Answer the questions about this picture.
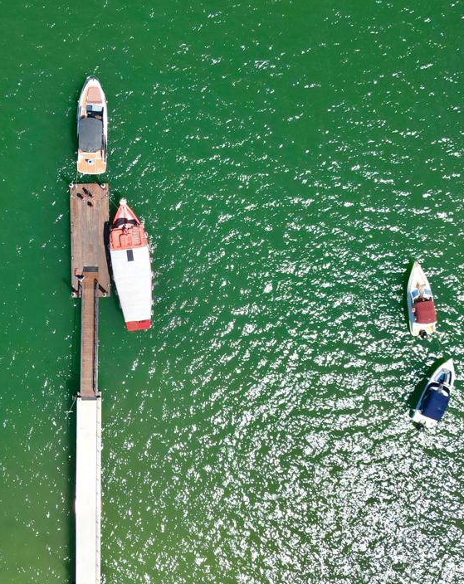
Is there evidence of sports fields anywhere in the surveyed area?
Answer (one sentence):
No, no sports field can be seen from above.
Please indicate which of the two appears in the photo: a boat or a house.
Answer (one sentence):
There is a boat in the scene.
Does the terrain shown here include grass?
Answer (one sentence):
No, there's no grass in this view.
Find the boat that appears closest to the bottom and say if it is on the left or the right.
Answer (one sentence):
The boat that appears closest to the bottom is on the right side of the image.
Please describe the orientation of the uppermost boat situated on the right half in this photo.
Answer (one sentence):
From this overhead view, the uppermost boat situated on the right half appears to run from top to bottom.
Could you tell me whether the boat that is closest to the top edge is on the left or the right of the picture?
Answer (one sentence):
The boat that is closest to the top edge sits on the left side.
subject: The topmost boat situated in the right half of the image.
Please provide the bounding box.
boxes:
[407,262,437,339]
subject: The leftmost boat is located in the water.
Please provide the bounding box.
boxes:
[74,75,110,174]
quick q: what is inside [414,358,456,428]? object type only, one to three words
boat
